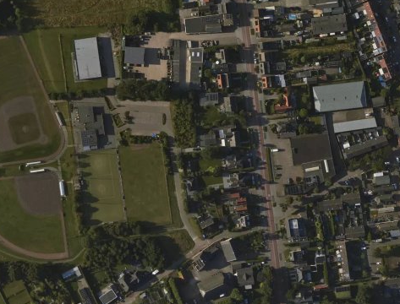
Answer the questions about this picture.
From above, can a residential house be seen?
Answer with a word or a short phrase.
Yes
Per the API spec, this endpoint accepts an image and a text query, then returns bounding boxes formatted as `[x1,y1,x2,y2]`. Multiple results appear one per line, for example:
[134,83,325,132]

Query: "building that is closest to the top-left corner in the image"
[74,37,101,80]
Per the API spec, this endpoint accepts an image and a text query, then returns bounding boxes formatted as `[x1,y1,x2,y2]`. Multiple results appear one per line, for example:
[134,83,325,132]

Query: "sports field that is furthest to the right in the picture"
[120,146,171,223]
